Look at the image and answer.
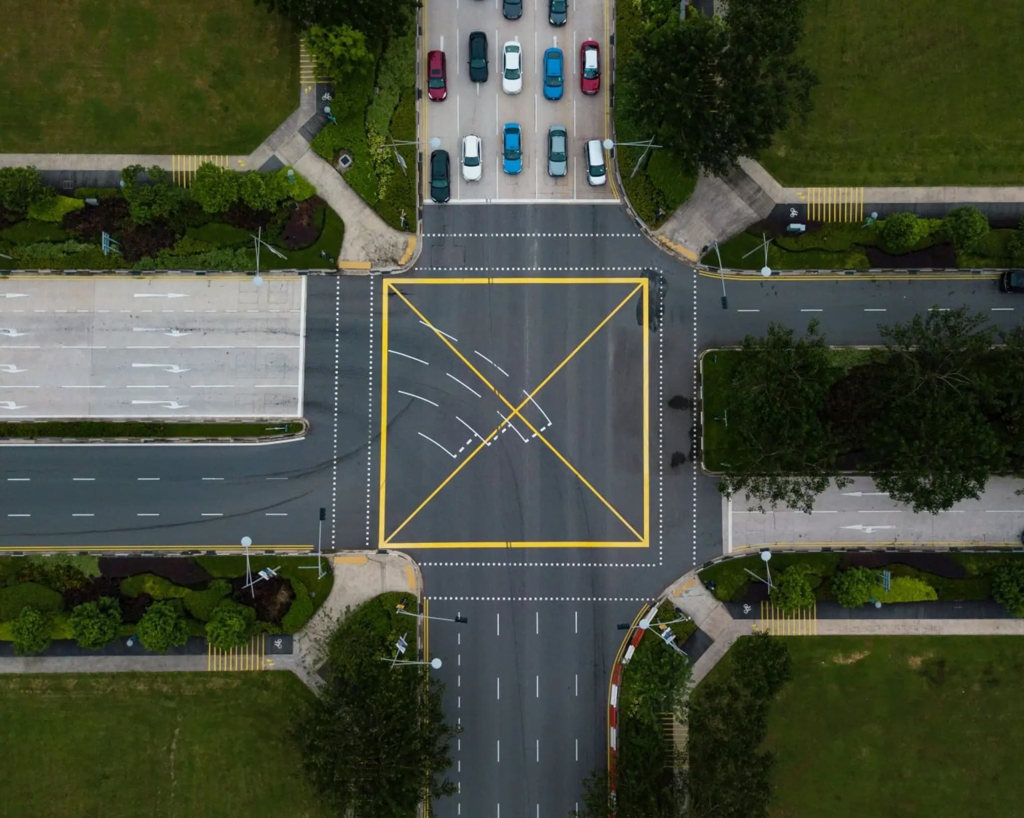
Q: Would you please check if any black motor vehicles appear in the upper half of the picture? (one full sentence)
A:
Yes, a black motor vehicle shows up in the upper half of the picture.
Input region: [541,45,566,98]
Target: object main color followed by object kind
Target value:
blue car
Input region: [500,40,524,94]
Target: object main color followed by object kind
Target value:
white car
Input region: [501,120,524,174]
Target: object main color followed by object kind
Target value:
blue car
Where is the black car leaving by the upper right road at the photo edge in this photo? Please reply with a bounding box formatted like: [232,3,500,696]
[1000,270,1024,292]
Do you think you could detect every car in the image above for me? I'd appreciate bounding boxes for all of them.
[541,45,566,98]
[466,27,490,81]
[546,122,570,176]
[460,131,483,180]
[427,148,452,201]
[425,48,449,100]
[501,120,524,174]
[1000,270,1024,292]
[546,0,569,26]
[578,39,602,93]
[502,0,523,19]
[500,40,524,94]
